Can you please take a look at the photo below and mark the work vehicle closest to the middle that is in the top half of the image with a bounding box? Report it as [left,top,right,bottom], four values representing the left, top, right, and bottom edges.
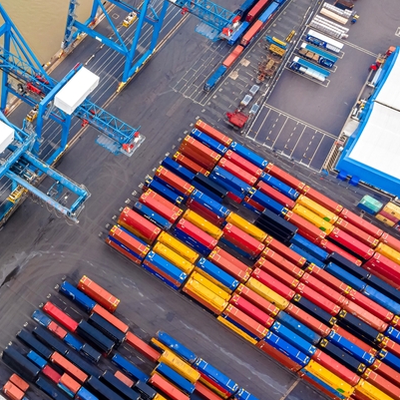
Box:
[220,104,245,130]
